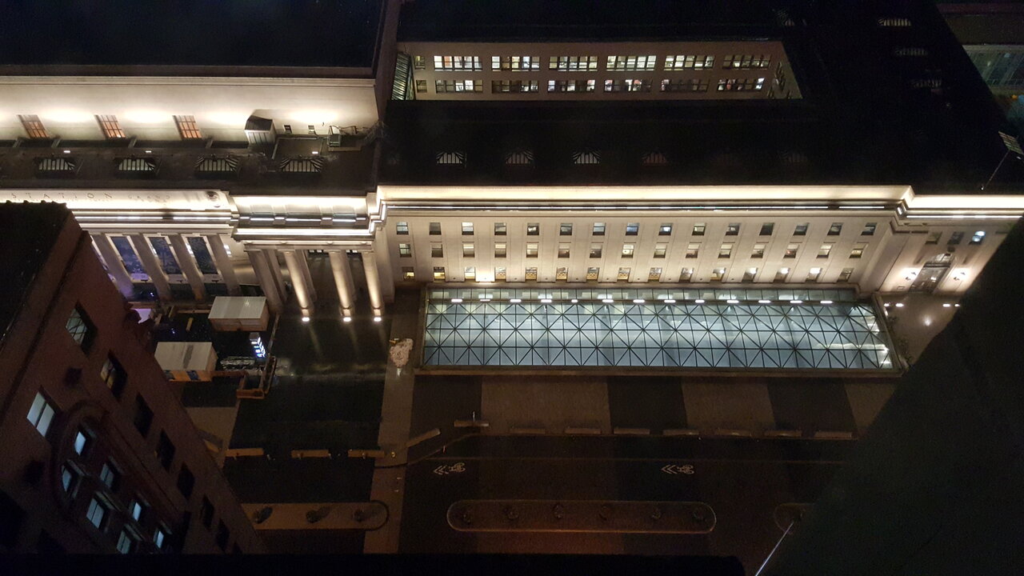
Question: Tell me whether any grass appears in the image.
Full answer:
No, there's no grass in this view.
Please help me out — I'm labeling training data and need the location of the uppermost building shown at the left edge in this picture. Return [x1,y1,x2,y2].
[0,0,400,315]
